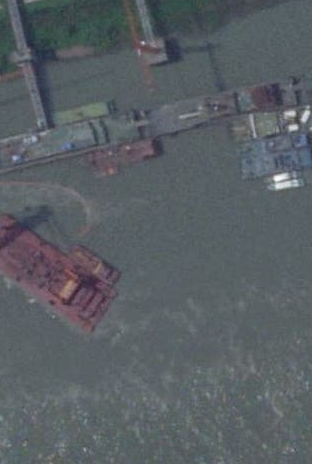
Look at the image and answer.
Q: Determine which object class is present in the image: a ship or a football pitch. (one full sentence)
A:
Of the two, only a ship appears.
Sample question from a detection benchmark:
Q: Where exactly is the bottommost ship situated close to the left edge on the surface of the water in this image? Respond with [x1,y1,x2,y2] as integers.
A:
[0,216,119,332]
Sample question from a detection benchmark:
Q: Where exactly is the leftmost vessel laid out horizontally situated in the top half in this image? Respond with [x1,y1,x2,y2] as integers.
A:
[54,101,114,126]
